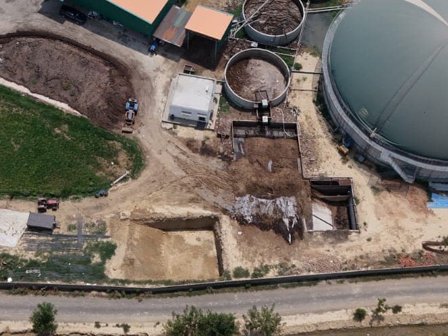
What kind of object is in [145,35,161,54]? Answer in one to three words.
work vehicle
